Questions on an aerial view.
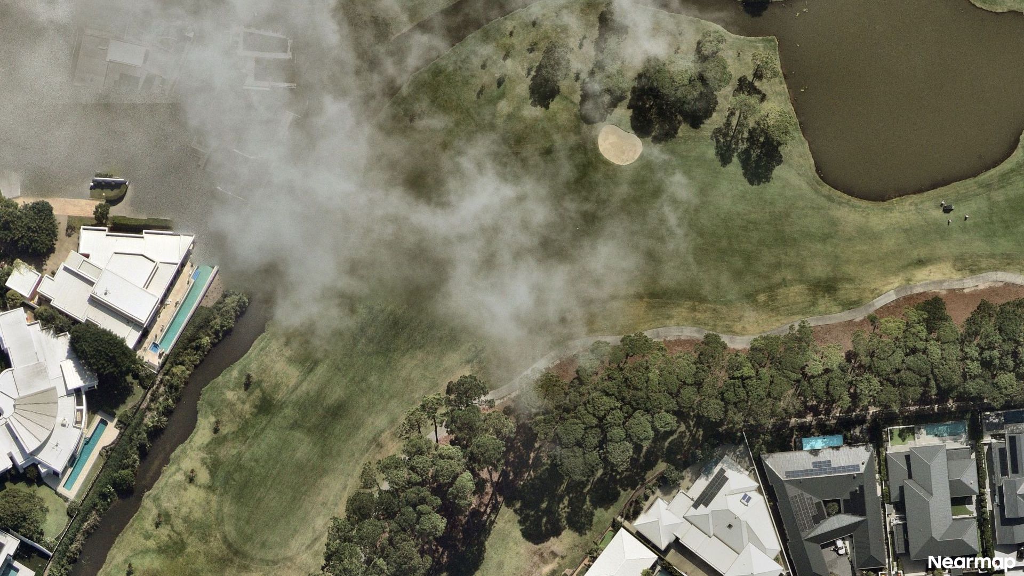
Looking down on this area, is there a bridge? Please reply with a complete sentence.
No, no bridge can be seen from above.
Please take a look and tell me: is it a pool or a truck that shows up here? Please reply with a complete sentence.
Of the two, only a pool appears.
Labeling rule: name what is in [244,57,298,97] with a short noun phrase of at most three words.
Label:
house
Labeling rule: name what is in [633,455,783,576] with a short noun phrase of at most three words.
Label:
house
